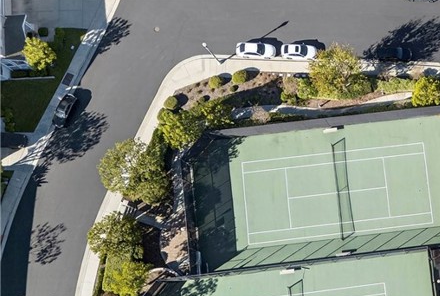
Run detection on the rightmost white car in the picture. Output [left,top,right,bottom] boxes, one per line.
[280,41,317,59]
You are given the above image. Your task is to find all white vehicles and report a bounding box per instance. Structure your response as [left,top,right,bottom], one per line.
[237,40,274,58]
[280,41,317,59]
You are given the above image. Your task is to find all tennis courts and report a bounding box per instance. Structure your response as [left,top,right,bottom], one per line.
[154,246,432,296]
[193,114,440,276]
